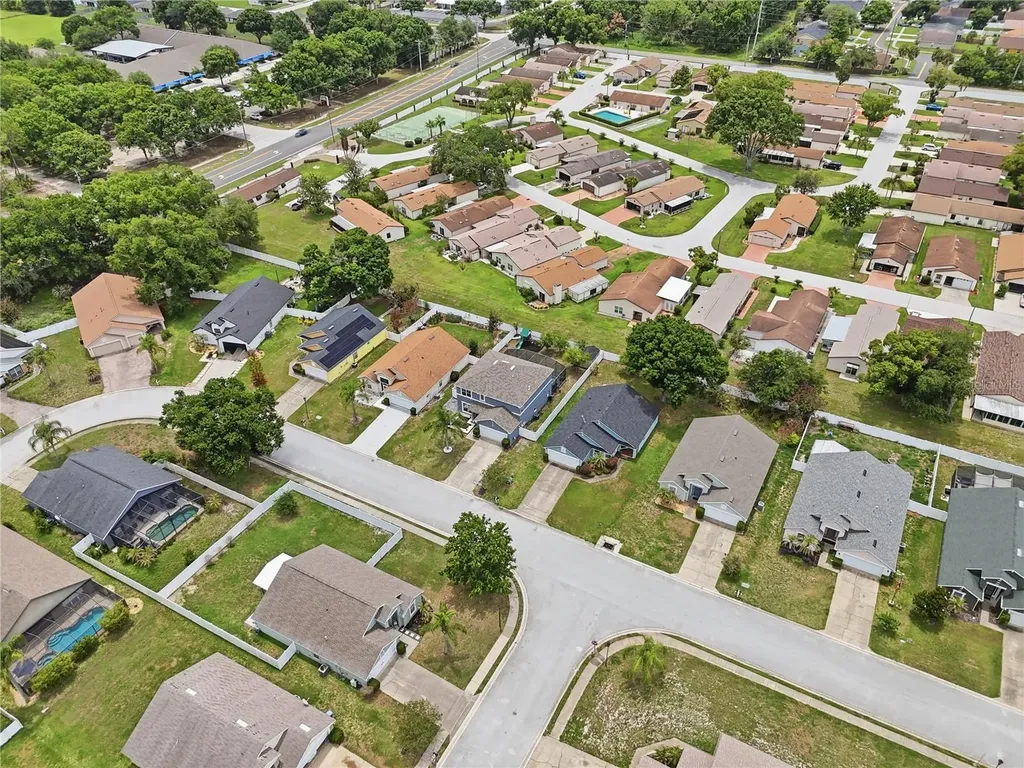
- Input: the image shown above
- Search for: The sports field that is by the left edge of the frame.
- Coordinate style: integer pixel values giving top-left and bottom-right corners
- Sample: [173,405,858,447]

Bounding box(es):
[0,11,79,45]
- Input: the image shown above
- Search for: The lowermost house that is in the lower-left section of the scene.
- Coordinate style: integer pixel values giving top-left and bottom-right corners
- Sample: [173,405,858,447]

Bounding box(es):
[122,649,340,768]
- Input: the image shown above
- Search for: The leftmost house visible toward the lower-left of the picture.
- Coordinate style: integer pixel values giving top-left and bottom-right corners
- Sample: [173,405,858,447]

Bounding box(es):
[0,530,86,645]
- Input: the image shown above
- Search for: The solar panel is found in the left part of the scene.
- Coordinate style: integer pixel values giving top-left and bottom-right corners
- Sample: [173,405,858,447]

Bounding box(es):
[320,314,375,368]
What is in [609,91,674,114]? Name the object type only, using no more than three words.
building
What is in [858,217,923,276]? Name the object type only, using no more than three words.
house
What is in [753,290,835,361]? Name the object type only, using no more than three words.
house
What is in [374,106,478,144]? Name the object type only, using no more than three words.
tennis court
